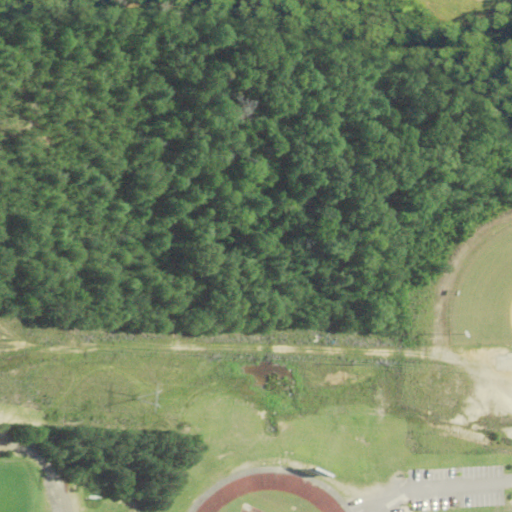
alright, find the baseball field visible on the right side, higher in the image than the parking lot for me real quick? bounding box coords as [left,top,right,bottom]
[436,218,512,353]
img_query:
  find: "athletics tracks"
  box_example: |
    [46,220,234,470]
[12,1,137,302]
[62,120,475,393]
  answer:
[192,467,347,512]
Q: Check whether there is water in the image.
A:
No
